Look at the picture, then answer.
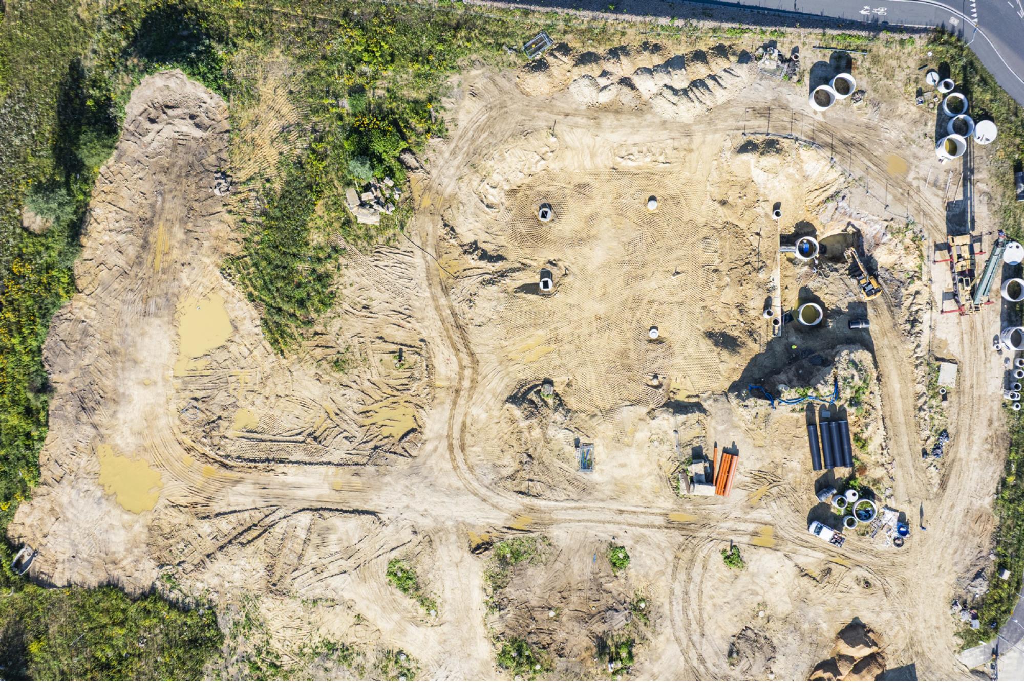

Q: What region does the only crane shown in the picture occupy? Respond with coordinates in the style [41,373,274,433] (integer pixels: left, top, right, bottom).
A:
[934,231,1006,310]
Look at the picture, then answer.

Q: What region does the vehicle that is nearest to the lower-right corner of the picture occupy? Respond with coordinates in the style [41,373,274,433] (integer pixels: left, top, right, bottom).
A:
[807,520,849,551]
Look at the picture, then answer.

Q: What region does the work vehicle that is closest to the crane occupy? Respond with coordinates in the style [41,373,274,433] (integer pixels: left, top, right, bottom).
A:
[842,245,884,304]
